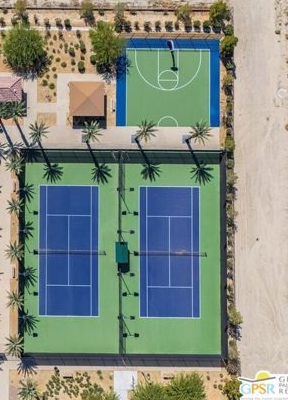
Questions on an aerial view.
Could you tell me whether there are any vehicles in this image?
No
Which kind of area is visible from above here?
sports ground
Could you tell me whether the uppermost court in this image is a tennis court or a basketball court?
basketball court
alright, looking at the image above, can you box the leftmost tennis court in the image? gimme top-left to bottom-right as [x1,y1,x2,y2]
[19,150,119,354]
